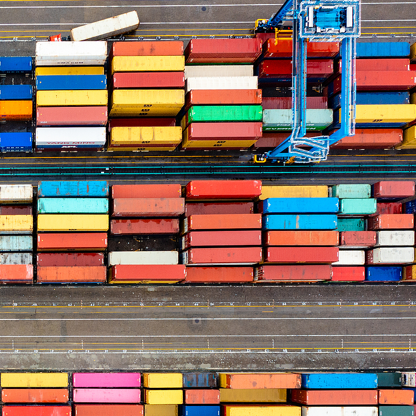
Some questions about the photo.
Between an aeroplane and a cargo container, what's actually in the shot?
cargo container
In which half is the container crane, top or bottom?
top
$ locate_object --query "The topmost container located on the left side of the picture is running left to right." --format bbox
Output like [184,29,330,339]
[70,10,139,40]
